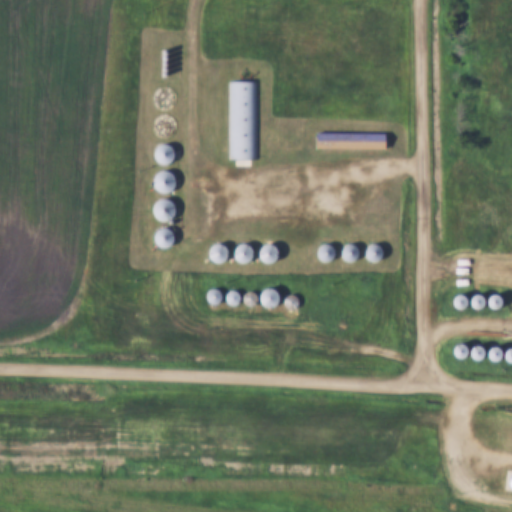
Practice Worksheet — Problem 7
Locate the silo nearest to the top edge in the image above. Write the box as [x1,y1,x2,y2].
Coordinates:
[154,144,176,166]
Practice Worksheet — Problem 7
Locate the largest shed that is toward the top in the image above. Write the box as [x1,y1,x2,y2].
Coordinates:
[229,81,255,168]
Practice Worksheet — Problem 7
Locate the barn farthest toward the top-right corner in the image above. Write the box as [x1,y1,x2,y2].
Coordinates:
[316,132,388,150]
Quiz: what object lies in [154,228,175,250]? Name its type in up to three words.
silo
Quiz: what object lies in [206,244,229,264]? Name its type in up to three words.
silo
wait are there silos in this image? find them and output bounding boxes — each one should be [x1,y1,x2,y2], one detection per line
[488,294,504,311]
[284,294,300,310]
[317,244,336,263]
[470,346,487,362]
[341,244,360,263]
[453,344,470,360]
[453,294,470,311]
[470,294,487,311]
[365,244,384,263]
[206,289,223,306]
[488,347,504,363]
[154,144,176,166]
[206,244,229,264]
[226,290,242,306]
[259,240,280,265]
[154,228,175,250]
[152,199,176,223]
[152,170,176,194]
[232,244,254,264]
[243,292,258,308]
[260,288,280,309]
